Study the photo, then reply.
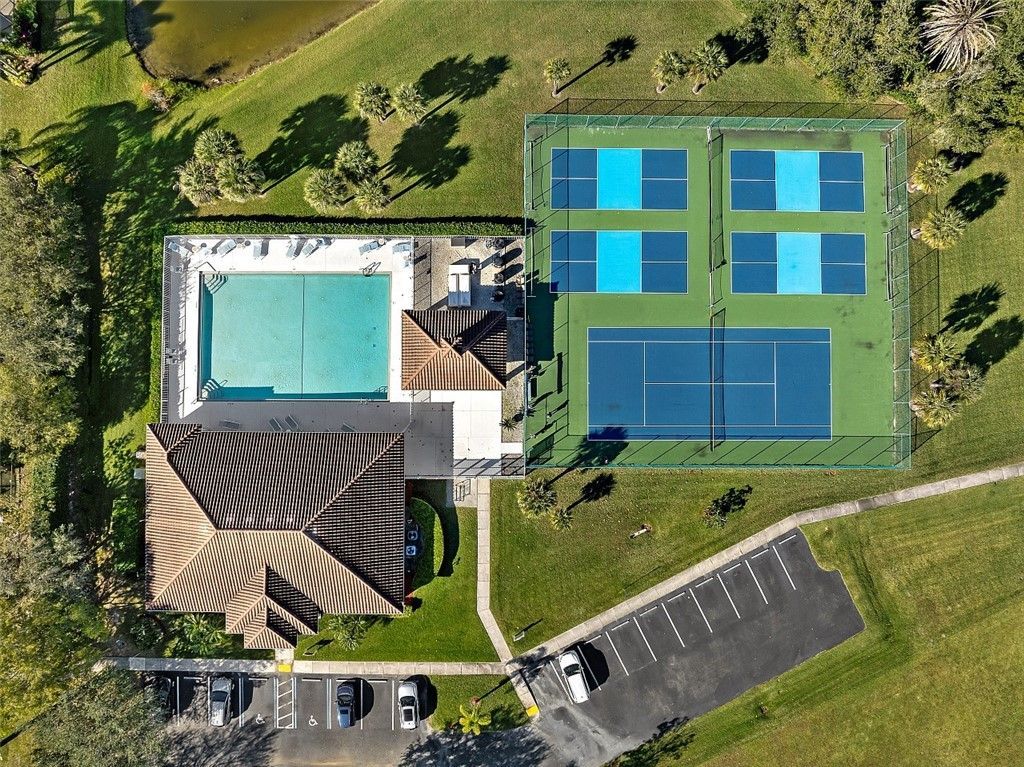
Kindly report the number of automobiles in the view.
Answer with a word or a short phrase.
5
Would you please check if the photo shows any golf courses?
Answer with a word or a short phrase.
No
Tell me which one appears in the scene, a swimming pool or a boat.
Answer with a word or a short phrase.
swimming pool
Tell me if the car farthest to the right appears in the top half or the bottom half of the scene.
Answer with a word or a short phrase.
bottom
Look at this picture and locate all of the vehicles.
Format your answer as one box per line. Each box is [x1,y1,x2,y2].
[334,680,356,728]
[208,675,234,727]
[149,672,175,722]
[396,678,420,730]
[560,649,590,705]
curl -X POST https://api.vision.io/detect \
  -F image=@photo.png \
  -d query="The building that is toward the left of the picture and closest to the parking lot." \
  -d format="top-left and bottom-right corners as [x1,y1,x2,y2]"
[142,422,405,650]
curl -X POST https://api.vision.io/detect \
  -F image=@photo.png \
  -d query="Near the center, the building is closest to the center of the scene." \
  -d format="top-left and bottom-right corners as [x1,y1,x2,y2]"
[400,308,508,391]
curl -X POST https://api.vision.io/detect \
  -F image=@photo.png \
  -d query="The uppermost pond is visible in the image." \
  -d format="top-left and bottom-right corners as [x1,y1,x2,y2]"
[131,0,379,84]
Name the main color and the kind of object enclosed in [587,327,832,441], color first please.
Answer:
blue tennis court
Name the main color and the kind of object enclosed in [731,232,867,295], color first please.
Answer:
blue sports court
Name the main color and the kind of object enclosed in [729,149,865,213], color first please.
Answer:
blue sports court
